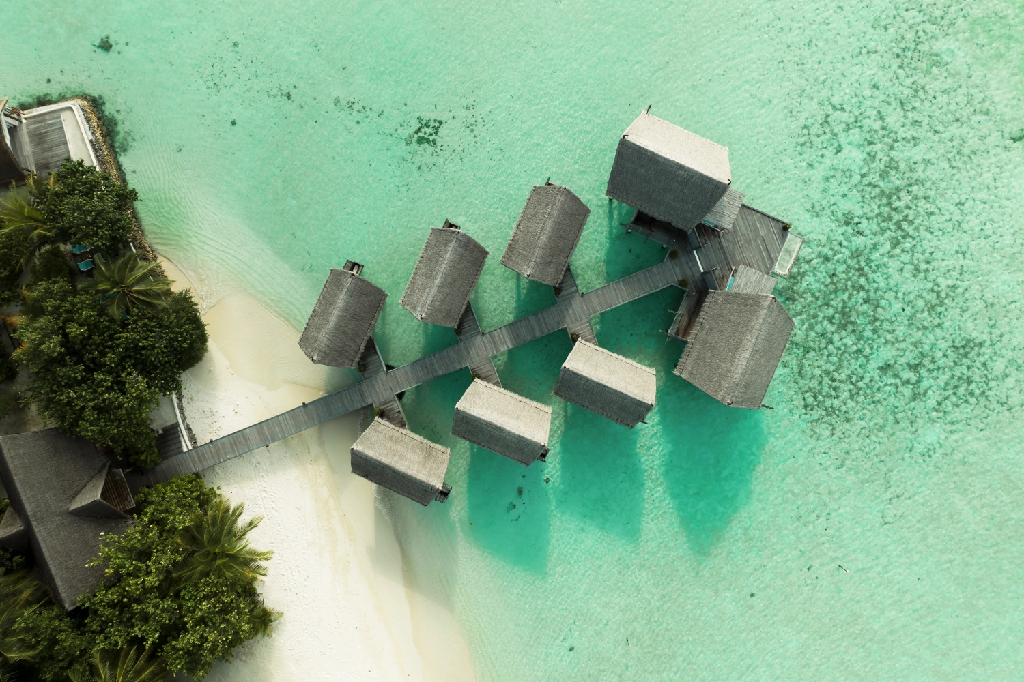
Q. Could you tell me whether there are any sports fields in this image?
No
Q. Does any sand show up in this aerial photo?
Yes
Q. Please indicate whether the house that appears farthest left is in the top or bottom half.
top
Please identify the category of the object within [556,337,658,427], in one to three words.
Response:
building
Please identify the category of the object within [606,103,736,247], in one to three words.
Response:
building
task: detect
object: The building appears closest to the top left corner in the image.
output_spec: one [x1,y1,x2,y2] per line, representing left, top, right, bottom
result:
[0,96,49,189]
